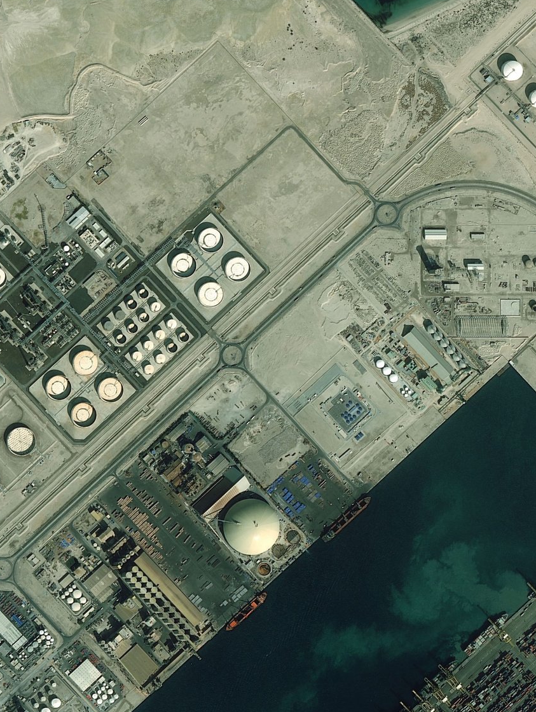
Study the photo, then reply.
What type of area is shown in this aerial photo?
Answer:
port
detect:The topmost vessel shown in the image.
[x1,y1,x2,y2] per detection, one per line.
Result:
[320,496,372,544]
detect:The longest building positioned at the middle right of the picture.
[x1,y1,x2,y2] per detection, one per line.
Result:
[402,326,455,383]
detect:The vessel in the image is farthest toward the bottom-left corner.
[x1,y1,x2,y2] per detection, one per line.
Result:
[226,592,269,630]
